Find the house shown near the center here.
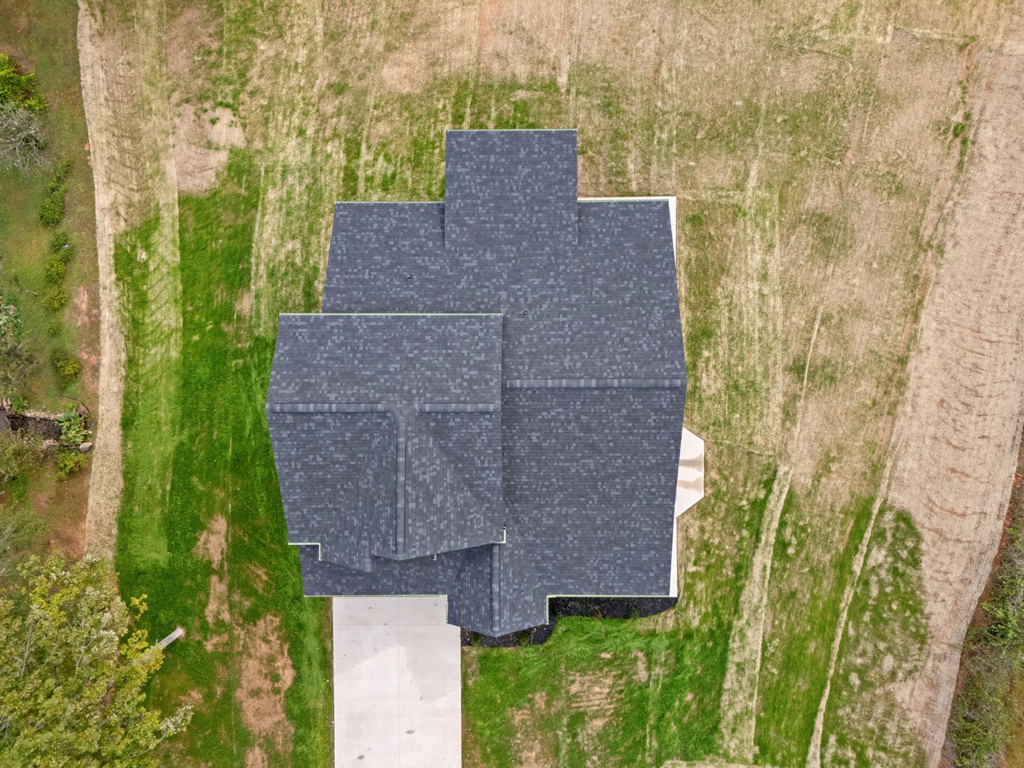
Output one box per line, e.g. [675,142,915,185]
[267,129,686,637]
